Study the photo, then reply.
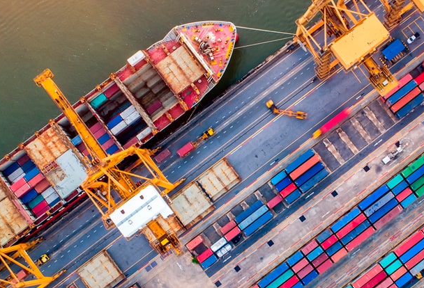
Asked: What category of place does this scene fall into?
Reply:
port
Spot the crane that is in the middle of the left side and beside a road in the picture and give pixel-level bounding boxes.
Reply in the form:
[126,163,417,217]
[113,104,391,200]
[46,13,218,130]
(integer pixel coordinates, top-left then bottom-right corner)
[30,73,189,266]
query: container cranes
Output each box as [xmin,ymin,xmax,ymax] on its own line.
[378,0,424,29]
[30,73,189,266]
[291,0,403,95]
[0,240,73,288]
